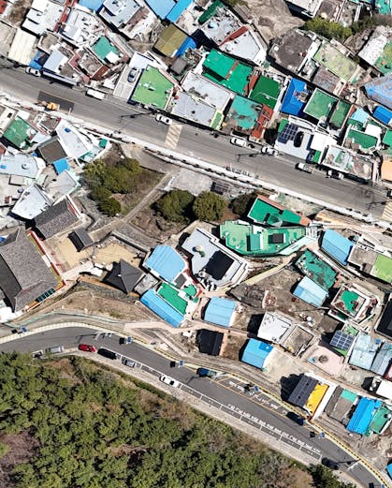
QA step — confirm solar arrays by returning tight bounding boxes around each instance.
[276,123,297,143]
[330,330,353,350]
